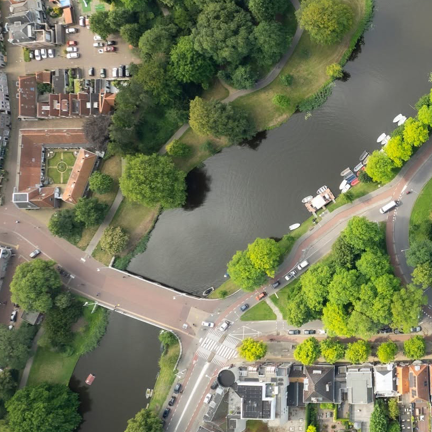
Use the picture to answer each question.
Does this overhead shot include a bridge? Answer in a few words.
Yes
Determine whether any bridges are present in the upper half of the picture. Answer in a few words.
No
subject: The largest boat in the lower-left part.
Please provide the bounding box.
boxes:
[84,371,97,386]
